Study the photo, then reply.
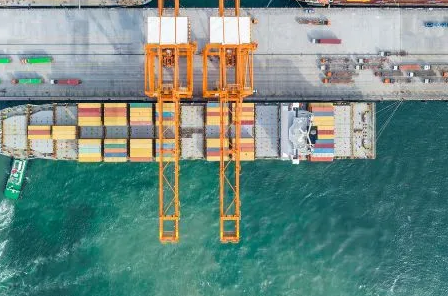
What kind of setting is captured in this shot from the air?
port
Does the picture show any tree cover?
No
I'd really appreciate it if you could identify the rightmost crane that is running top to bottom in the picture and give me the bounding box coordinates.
[195,0,258,244]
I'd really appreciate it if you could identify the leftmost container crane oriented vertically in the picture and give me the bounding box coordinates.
[142,0,199,244]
